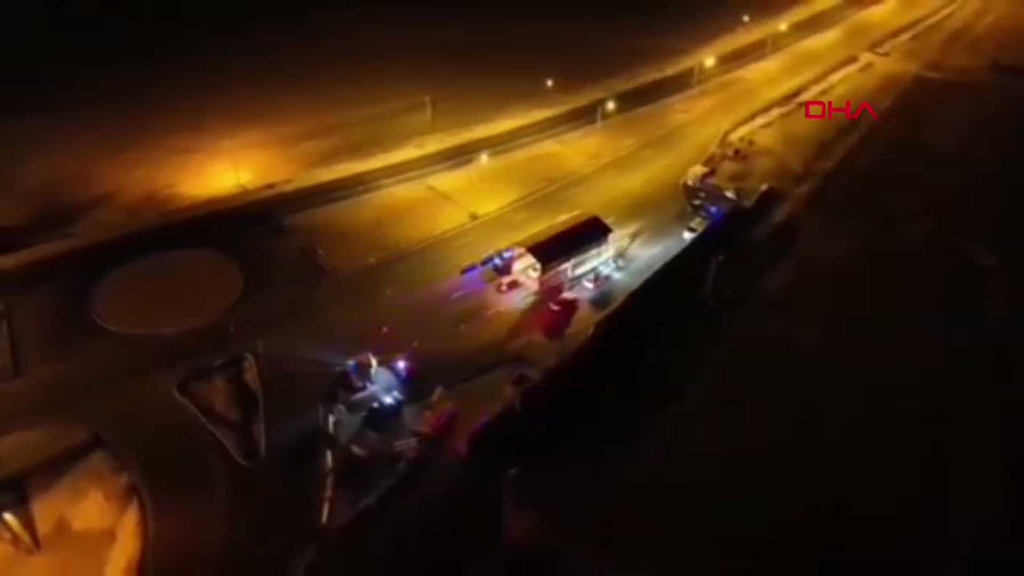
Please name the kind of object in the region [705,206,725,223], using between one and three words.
car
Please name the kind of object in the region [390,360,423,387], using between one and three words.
car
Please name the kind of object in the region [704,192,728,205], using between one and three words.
vehicle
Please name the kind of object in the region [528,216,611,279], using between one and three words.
trailer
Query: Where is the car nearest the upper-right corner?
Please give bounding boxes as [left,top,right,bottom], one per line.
[755,183,772,197]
